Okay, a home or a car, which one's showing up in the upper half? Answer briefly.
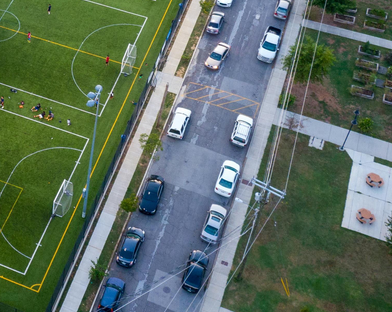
car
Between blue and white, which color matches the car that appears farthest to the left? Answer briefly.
blue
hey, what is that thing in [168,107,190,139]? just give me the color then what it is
white car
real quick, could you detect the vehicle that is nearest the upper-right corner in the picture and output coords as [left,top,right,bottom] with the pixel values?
[274,0,292,20]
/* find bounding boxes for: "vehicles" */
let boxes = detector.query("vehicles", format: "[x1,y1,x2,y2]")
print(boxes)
[118,227,144,268]
[98,275,125,312]
[182,249,209,292]
[259,26,281,60]
[206,9,225,35]
[202,204,226,242]
[274,0,292,20]
[140,176,165,213]
[216,162,238,197]
[233,114,255,146]
[168,107,190,139]
[206,42,230,70]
